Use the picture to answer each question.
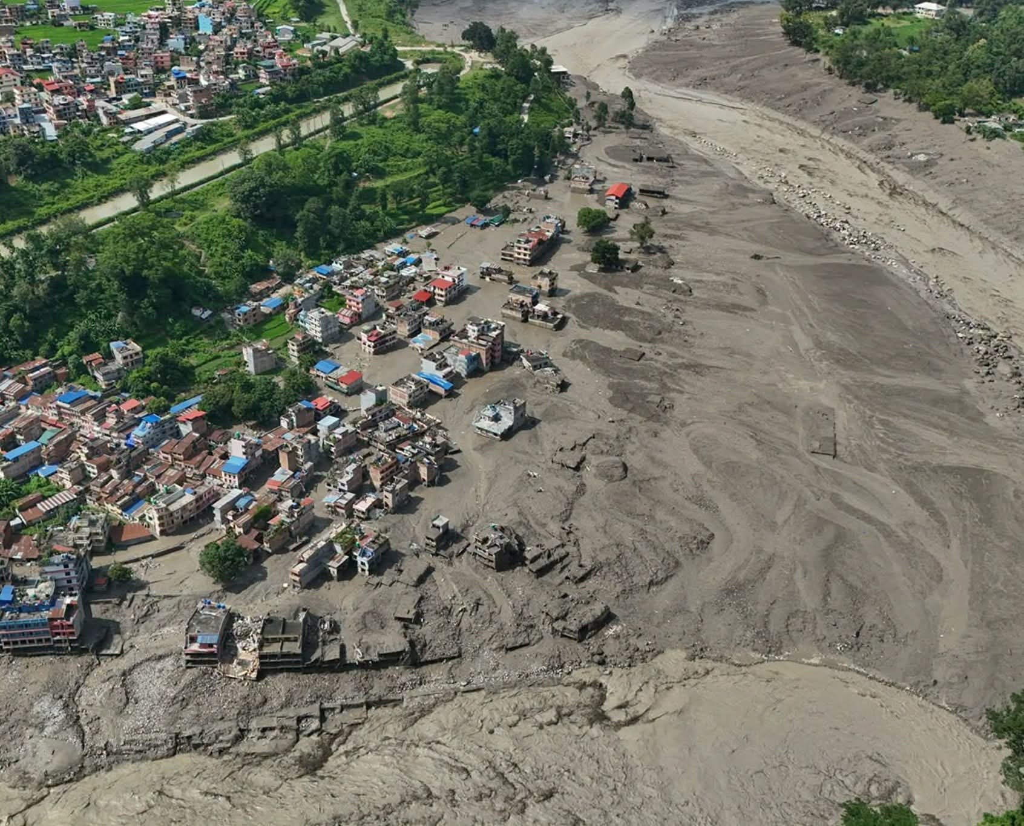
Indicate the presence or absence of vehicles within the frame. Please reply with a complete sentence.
No, the picture doesn't show any vehicle.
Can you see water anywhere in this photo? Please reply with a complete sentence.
Yes, water can be seen from above here.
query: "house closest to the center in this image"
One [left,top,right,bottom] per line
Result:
[471,399,525,439]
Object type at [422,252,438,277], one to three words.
shed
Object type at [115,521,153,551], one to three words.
shed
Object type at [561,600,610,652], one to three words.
house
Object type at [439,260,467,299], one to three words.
house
